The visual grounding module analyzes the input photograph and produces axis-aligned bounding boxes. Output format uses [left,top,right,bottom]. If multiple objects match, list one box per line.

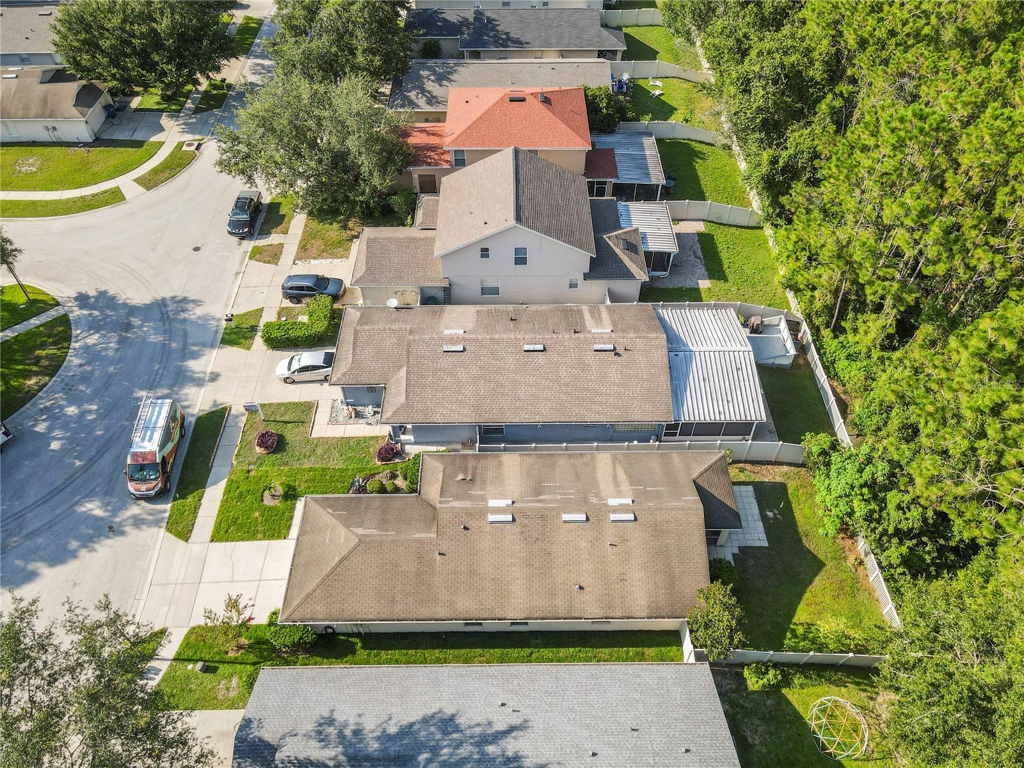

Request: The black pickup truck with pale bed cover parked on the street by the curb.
[224,190,261,240]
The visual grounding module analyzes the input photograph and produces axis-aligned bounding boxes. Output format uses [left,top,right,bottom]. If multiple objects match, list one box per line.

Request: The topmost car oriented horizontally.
[280,270,350,303]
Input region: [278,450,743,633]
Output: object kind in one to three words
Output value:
house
